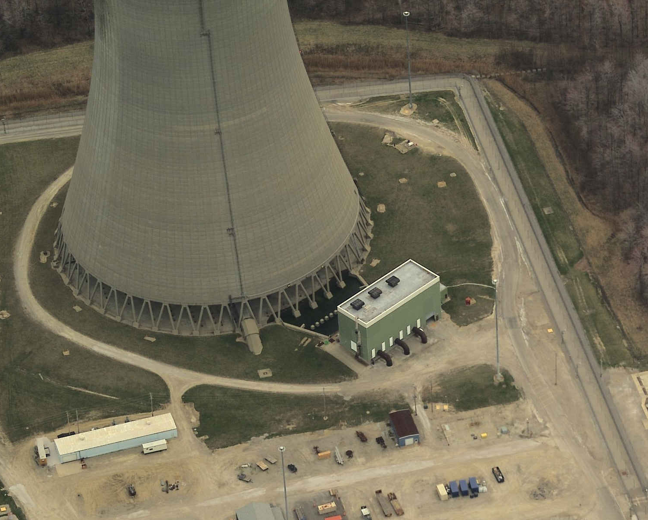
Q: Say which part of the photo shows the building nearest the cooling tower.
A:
center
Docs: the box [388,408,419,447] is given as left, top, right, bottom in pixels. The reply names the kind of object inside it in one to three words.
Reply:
building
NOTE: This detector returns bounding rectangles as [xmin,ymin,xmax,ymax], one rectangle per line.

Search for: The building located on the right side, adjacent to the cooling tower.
[336,259,446,365]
